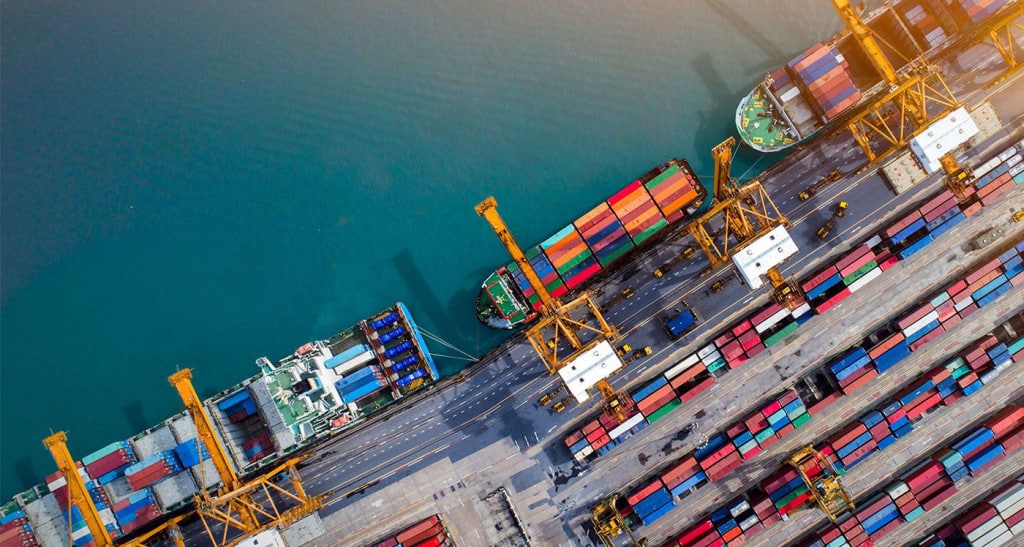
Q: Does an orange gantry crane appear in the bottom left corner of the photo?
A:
Yes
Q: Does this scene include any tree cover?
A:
No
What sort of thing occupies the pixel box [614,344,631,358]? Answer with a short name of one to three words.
work vehicle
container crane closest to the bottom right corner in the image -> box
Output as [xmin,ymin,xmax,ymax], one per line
[777,439,856,521]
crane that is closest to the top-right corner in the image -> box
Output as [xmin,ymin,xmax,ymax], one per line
[949,9,1024,94]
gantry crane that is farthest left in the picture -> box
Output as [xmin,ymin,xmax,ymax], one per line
[38,426,220,547]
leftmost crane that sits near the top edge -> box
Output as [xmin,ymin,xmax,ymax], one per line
[815,0,984,201]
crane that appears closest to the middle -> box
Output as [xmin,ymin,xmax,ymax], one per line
[474,190,632,419]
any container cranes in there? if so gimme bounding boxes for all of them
[165,364,333,547]
[38,426,220,547]
[777,439,856,521]
[579,485,645,547]
[667,129,803,309]
[815,0,984,201]
[949,9,1024,94]
[474,190,632,419]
